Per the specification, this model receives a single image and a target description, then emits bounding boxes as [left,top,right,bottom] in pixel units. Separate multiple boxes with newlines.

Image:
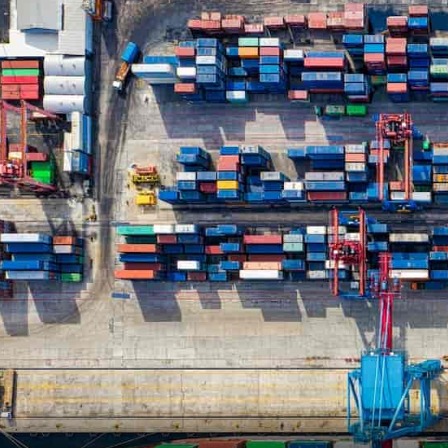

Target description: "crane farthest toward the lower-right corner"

[347,251,447,448]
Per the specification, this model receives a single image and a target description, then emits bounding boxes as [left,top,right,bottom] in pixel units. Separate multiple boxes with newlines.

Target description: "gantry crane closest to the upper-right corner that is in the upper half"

[376,114,423,213]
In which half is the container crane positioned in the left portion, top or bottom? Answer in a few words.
top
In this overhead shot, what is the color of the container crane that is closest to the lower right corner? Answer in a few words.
blue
